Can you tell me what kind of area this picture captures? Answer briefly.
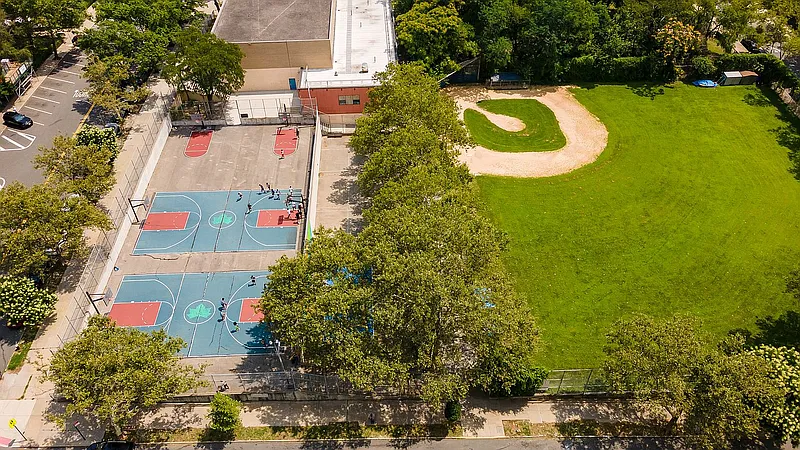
sports ground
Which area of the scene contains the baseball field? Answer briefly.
right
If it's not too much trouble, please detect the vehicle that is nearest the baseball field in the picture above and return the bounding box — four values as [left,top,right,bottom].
[740,40,760,52]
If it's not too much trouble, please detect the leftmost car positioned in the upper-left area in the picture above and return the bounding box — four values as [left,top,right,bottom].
[2,113,29,129]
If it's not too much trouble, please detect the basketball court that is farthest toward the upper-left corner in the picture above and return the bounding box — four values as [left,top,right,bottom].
[184,130,214,159]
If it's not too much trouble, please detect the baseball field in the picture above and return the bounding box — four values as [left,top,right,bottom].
[433,80,800,390]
